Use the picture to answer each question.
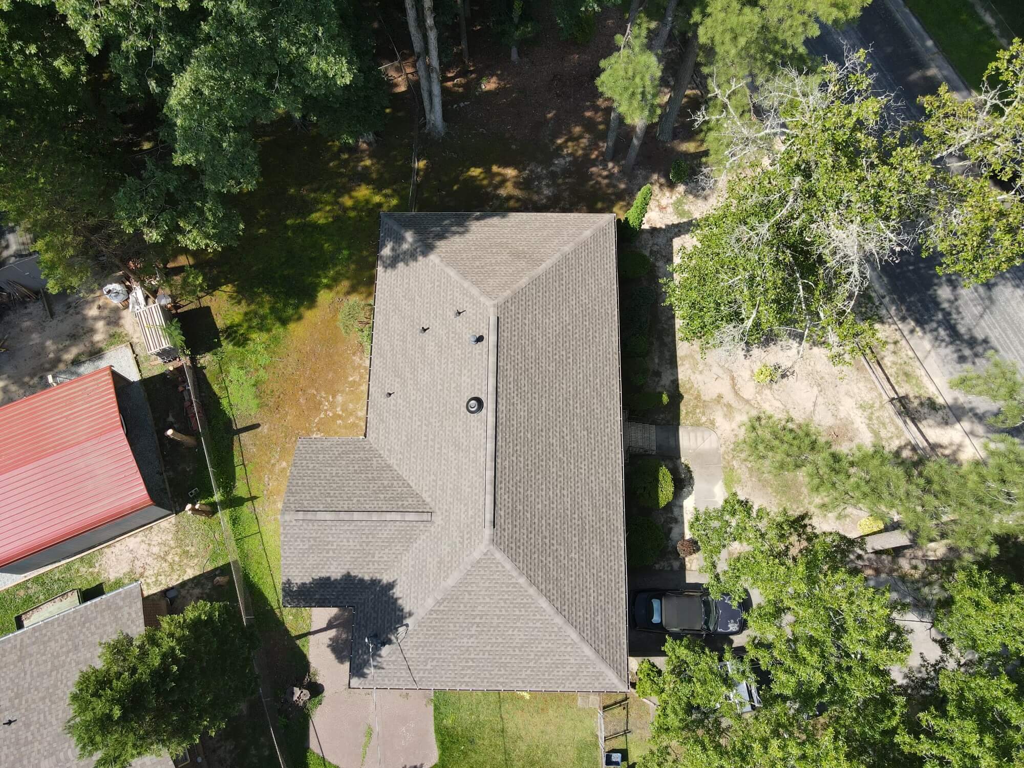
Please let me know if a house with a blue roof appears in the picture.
No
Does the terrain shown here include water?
No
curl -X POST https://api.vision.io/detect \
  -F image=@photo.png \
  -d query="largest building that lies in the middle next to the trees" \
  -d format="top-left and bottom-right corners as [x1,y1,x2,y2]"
[282,210,632,695]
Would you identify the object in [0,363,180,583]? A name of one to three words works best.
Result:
shed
